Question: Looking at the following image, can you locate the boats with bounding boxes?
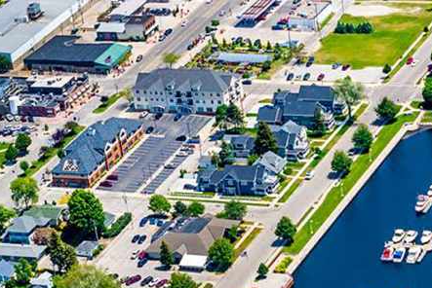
[420,228,432,245]
[391,245,407,265]
[413,195,429,214]
[392,227,407,243]
[406,228,420,245]
[403,243,423,266]
[379,244,394,263]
